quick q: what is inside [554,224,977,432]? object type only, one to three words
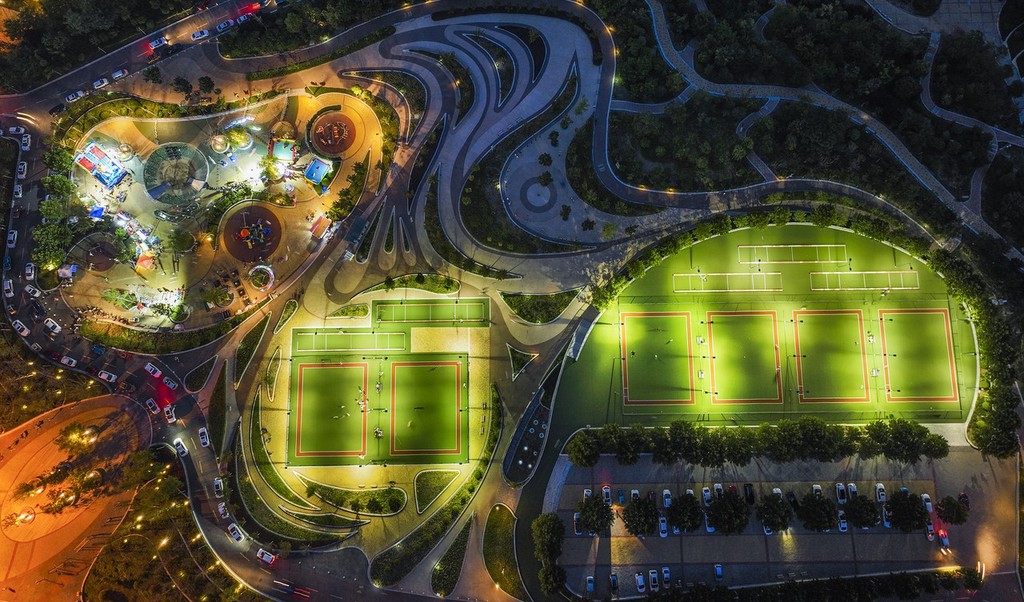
sports field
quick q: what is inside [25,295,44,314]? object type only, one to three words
vehicle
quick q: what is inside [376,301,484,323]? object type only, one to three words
sports court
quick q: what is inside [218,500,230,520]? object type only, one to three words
vehicle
